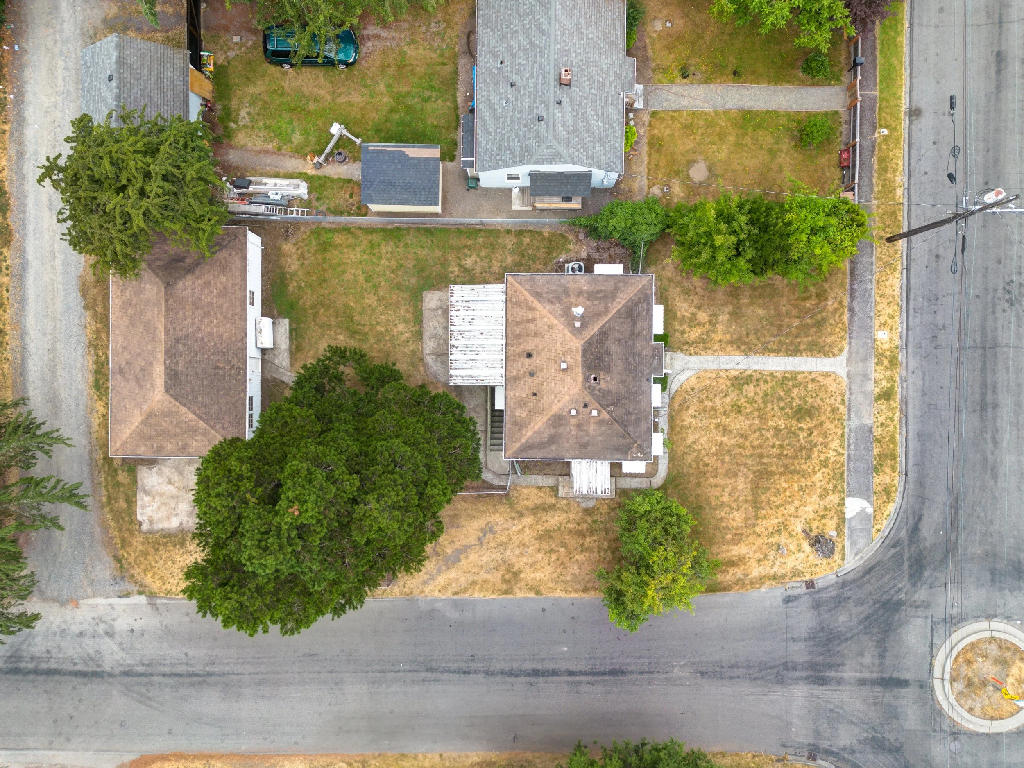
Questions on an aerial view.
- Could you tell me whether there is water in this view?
No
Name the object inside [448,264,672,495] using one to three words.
house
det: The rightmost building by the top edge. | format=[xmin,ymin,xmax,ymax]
[460,0,637,197]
